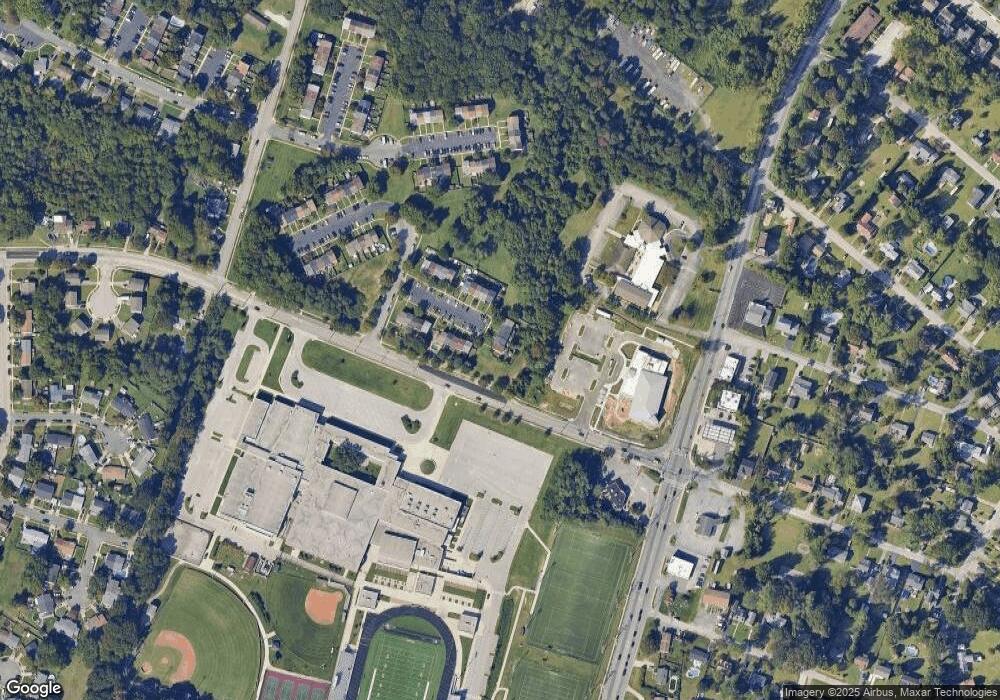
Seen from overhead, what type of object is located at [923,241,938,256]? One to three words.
swimming pool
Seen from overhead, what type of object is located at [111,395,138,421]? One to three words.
house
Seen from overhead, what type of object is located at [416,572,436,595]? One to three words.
building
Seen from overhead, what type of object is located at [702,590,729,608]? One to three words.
building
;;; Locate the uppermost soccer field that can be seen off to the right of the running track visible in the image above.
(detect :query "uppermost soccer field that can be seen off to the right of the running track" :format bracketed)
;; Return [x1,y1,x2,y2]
[523,522,643,664]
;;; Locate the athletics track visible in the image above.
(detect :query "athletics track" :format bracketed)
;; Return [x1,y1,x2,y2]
[348,604,456,700]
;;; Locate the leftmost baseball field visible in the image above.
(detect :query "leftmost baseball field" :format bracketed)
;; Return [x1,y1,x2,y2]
[141,630,195,683]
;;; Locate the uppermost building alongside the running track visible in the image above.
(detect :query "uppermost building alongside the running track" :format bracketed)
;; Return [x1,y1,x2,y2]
[221,398,468,571]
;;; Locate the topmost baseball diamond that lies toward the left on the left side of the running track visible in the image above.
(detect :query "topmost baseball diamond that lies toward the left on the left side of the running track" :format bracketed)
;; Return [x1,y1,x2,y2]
[303,586,345,627]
